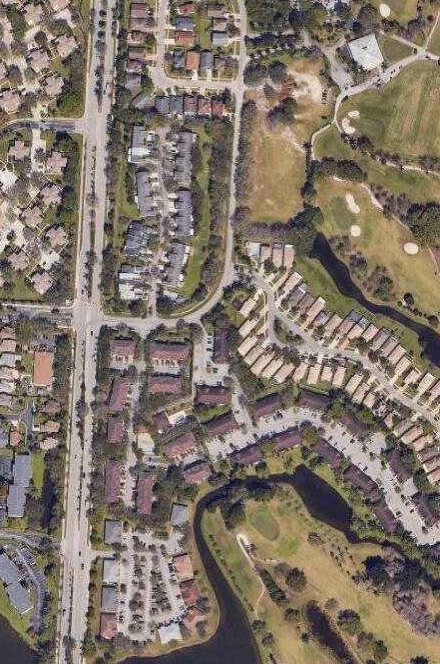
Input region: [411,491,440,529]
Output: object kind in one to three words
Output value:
building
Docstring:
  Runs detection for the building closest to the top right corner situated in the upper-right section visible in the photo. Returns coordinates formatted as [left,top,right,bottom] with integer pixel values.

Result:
[349,33,384,70]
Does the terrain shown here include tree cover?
Yes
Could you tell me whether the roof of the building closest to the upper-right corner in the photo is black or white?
white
